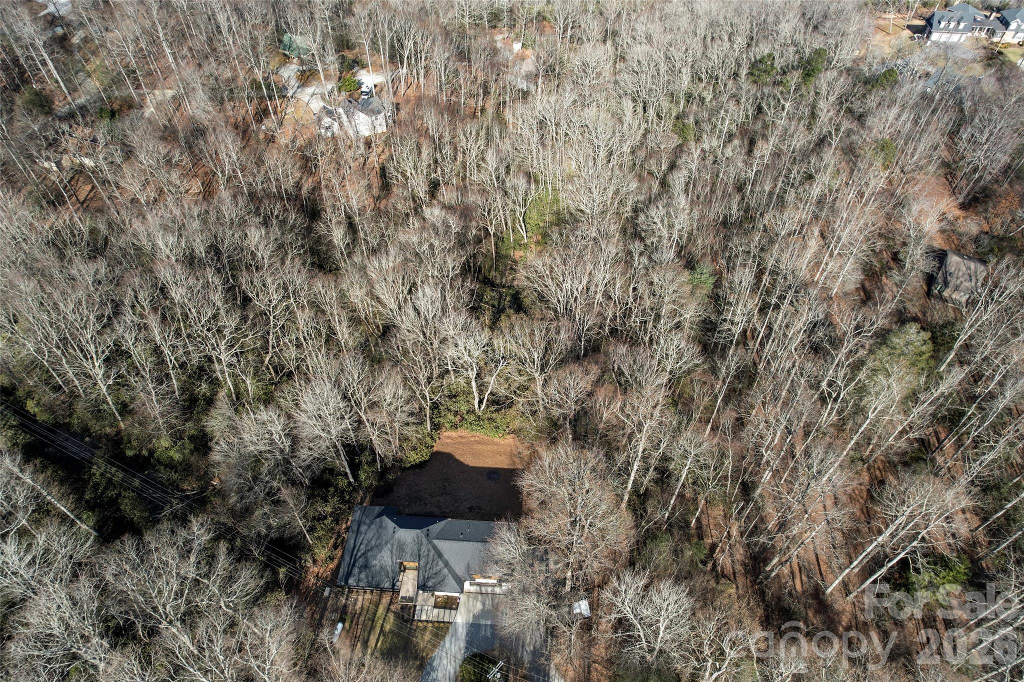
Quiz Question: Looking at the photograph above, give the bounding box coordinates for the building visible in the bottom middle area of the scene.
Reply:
[337,505,521,598]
